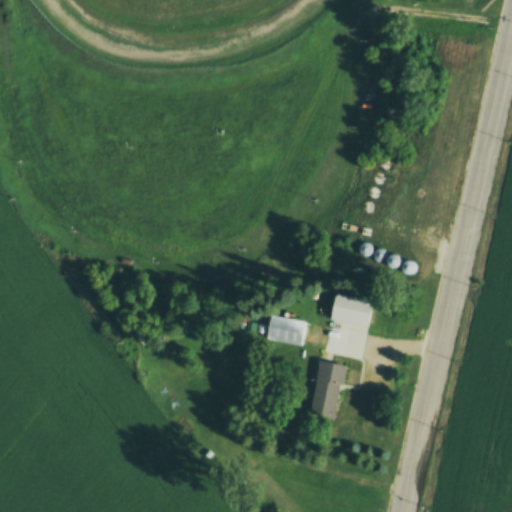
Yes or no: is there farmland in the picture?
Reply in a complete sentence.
Yes, some farmland is visible.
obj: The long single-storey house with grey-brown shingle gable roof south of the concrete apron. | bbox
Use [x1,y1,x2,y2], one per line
[310,360,348,417]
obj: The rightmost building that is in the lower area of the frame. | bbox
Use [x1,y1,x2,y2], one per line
[332,296,374,328]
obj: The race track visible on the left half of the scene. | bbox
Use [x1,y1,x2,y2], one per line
[31,0,330,68]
